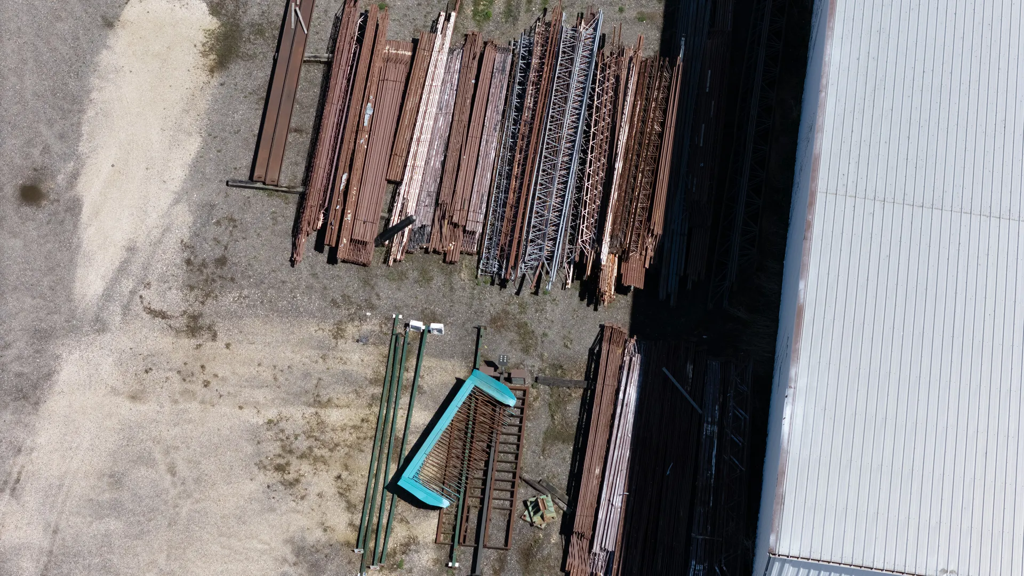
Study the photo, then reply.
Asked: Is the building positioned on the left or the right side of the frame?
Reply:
right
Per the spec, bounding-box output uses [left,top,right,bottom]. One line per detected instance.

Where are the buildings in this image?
[752,0,1024,576]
